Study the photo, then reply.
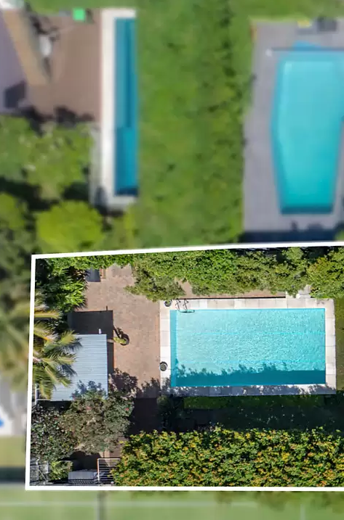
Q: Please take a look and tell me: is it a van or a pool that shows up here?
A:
pool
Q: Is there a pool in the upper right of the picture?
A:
Yes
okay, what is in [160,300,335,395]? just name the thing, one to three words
swimming pool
